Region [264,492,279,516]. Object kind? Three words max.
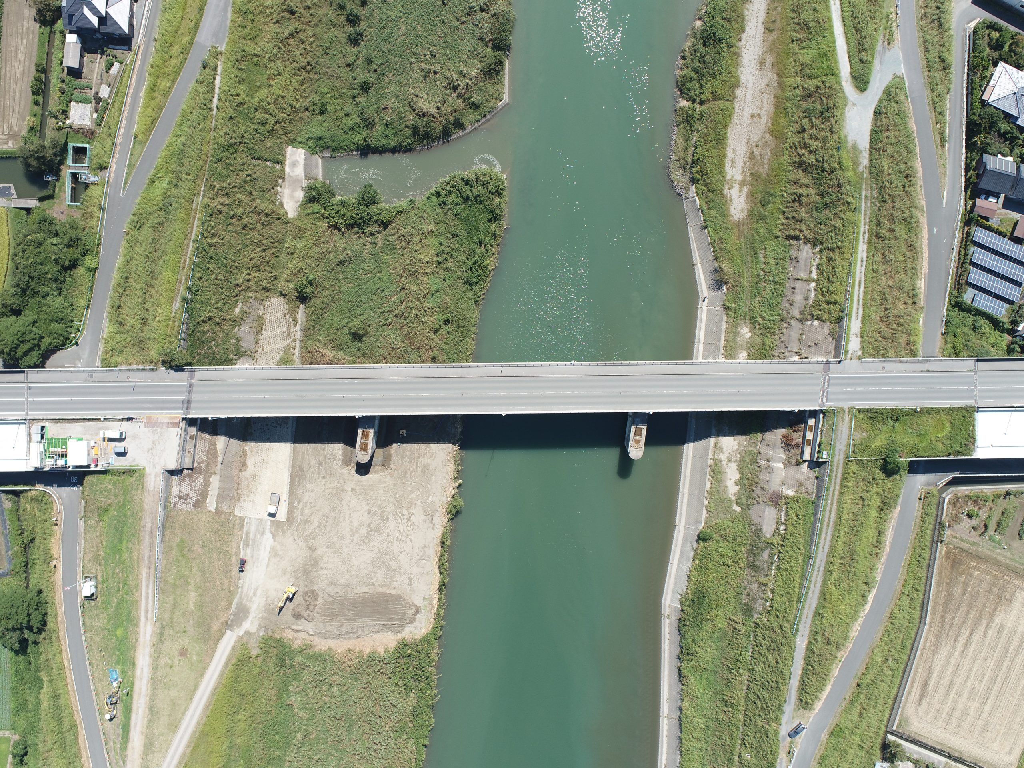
vehicle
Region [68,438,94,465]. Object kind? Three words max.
shed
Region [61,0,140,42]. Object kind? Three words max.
house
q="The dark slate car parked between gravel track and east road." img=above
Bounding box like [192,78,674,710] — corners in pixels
[788,724,807,741]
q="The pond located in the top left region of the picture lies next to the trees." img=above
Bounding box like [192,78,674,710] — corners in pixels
[0,156,59,200]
